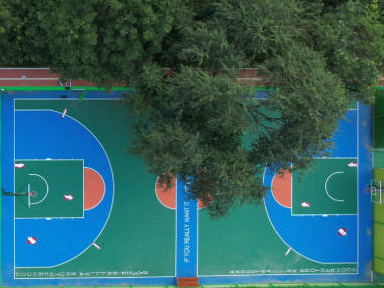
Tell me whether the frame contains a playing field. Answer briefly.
Yes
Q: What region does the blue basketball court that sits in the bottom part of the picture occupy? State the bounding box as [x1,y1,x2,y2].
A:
[0,90,372,288]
